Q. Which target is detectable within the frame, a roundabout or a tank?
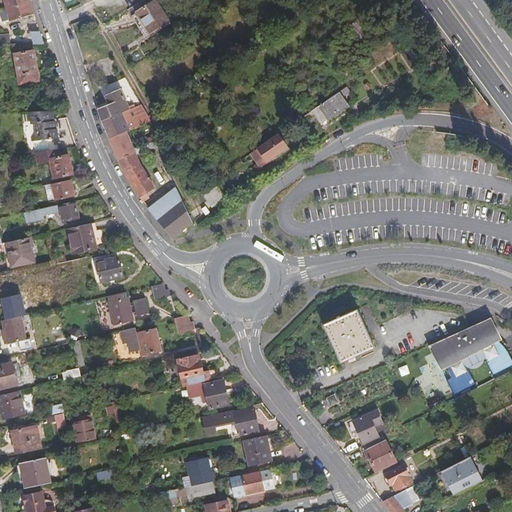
roundabout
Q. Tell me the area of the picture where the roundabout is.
center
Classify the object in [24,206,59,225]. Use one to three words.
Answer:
shed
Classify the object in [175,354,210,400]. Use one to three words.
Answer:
house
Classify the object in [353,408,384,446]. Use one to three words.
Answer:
house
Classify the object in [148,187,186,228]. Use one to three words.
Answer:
building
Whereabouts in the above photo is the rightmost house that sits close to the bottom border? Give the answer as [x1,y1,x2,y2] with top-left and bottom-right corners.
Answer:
[442,458,484,497]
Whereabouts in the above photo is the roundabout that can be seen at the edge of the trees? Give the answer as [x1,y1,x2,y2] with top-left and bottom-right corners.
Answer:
[201,234,289,322]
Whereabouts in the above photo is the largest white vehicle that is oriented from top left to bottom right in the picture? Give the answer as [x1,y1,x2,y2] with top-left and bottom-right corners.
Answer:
[254,240,284,262]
